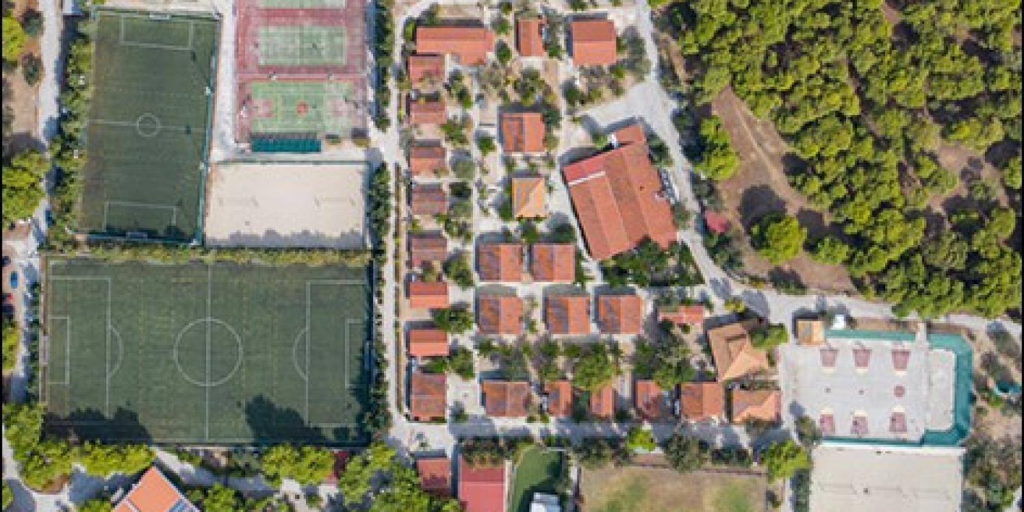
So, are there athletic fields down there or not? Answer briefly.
Yes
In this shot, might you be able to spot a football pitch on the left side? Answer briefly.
Yes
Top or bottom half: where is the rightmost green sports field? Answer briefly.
bottom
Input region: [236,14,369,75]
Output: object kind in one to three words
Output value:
tennis court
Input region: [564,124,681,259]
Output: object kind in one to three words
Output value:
building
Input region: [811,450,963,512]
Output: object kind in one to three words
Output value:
sports court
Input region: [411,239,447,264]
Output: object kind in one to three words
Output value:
house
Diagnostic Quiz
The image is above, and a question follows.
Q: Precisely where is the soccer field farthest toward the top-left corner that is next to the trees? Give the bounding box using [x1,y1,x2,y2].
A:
[79,12,217,241]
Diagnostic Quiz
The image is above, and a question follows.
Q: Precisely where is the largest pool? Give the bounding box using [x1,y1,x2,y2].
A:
[994,380,1011,396]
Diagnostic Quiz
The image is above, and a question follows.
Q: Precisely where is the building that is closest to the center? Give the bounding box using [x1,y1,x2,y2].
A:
[479,244,522,282]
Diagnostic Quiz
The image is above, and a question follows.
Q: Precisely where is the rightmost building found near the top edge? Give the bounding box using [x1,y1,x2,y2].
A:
[572,22,617,66]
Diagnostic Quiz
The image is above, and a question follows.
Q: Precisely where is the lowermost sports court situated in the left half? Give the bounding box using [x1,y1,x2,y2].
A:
[205,161,365,248]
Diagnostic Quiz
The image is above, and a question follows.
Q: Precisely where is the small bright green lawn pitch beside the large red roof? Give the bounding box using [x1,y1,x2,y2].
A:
[510,446,569,512]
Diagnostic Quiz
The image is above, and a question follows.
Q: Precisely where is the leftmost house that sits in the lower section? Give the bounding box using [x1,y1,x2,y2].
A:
[110,464,207,512]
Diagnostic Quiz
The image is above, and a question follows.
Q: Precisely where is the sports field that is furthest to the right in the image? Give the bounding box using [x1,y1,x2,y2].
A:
[580,468,766,512]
